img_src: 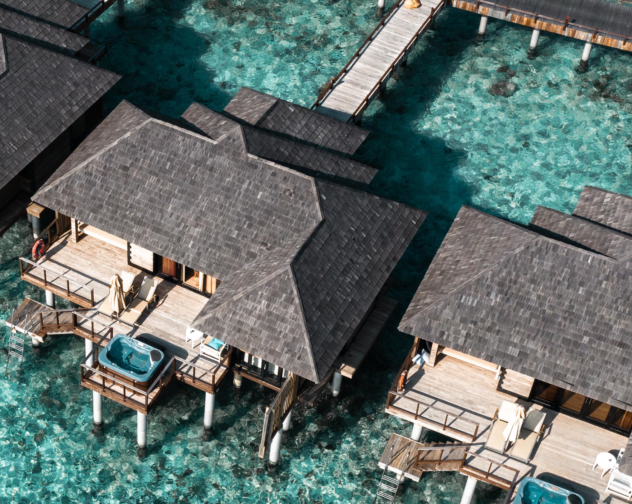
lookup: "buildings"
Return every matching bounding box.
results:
[365,185,632,504]
[4,87,431,464]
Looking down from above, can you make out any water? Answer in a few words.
Yes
